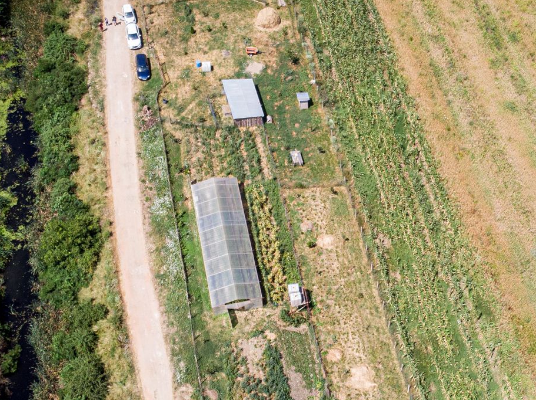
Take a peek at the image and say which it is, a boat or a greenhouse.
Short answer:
greenhouse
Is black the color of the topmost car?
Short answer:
No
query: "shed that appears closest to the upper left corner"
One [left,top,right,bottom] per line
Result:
[222,77,265,129]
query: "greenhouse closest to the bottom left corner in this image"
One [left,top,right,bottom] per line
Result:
[191,175,262,315]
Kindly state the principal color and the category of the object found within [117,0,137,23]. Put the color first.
white car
